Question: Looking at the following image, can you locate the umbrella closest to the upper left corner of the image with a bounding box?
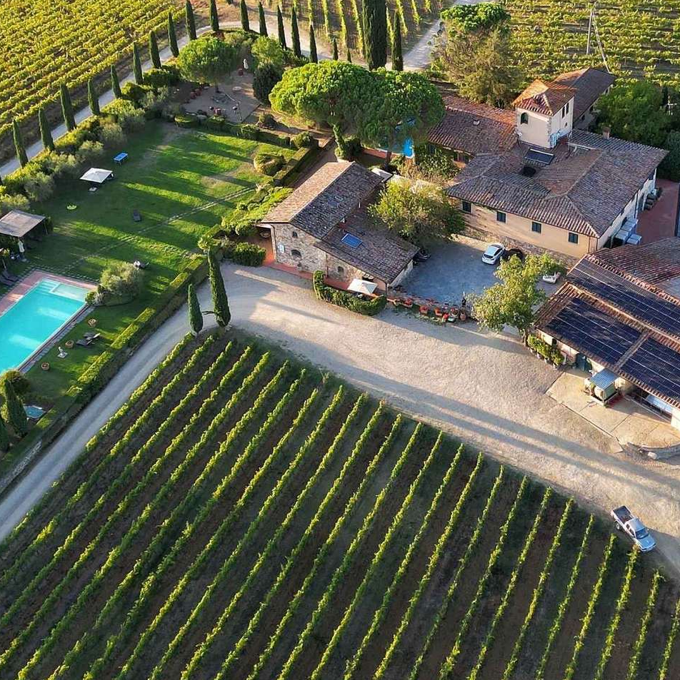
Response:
[82,170,112,191]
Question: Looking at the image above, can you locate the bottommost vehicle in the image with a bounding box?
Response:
[604,505,662,558]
